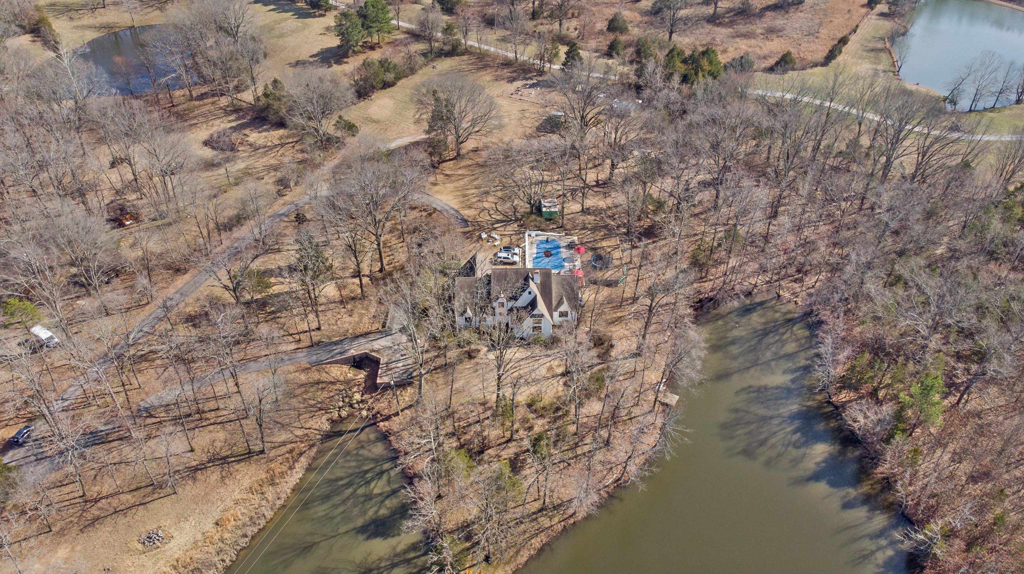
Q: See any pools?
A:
Yes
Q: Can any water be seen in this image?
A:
Yes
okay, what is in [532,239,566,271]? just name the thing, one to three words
swimming pool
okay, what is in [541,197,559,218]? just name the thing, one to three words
shed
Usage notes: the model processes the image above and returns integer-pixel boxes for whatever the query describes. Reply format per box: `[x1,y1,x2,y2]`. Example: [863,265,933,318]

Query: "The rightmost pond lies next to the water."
[893,0,1024,111]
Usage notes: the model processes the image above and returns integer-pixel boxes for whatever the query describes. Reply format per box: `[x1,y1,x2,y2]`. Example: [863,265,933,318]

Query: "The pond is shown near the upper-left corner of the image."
[58,24,208,99]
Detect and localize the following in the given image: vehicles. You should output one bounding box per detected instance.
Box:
[4,422,37,448]
[27,325,58,348]
[498,244,520,255]
[498,253,519,264]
